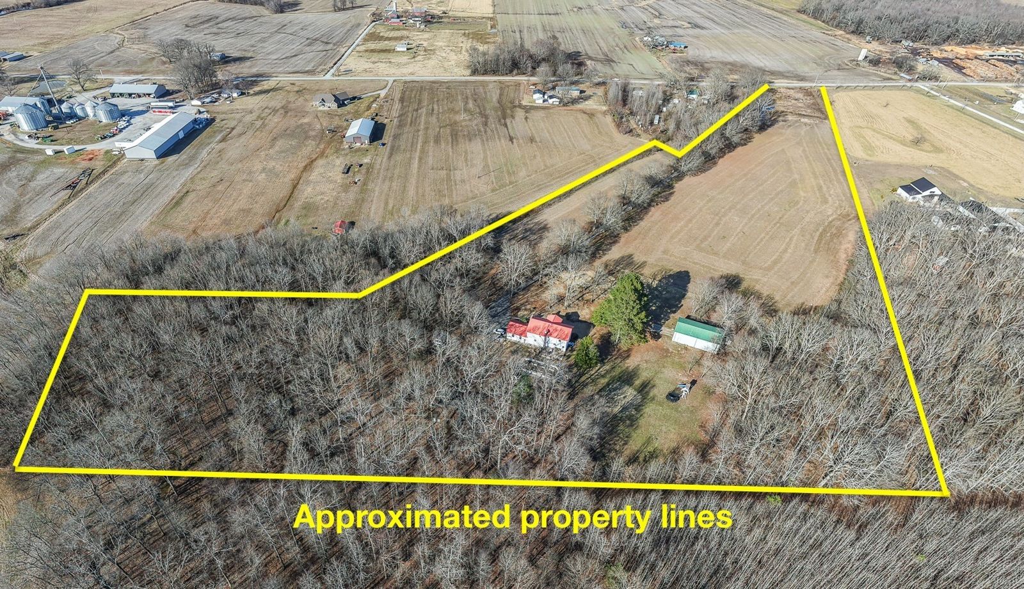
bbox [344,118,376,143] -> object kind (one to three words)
building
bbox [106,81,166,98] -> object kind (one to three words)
shed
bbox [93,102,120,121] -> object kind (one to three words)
silo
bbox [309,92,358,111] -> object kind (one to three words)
house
